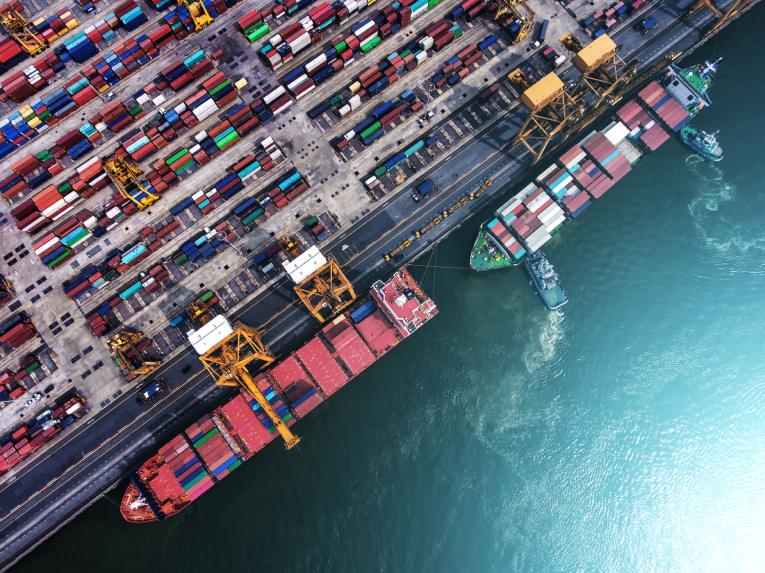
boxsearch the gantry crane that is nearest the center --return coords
[279,245,357,326]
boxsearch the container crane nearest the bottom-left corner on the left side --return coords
[111,326,171,376]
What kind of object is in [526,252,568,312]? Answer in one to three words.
boat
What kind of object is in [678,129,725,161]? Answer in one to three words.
boat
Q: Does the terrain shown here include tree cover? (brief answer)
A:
No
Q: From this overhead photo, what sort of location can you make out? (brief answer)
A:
port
